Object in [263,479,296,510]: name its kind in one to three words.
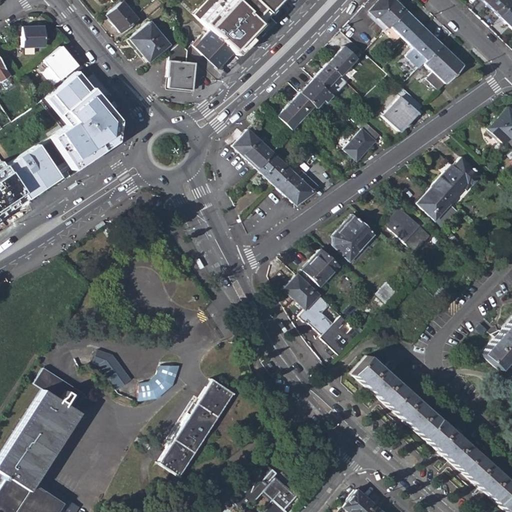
house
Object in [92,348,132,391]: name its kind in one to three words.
building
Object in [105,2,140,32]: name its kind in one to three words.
house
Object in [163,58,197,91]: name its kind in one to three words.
building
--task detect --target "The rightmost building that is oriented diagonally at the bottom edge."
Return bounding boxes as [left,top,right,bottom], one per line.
[351,358,512,512]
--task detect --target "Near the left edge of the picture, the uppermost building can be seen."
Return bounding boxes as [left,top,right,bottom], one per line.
[21,24,48,55]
